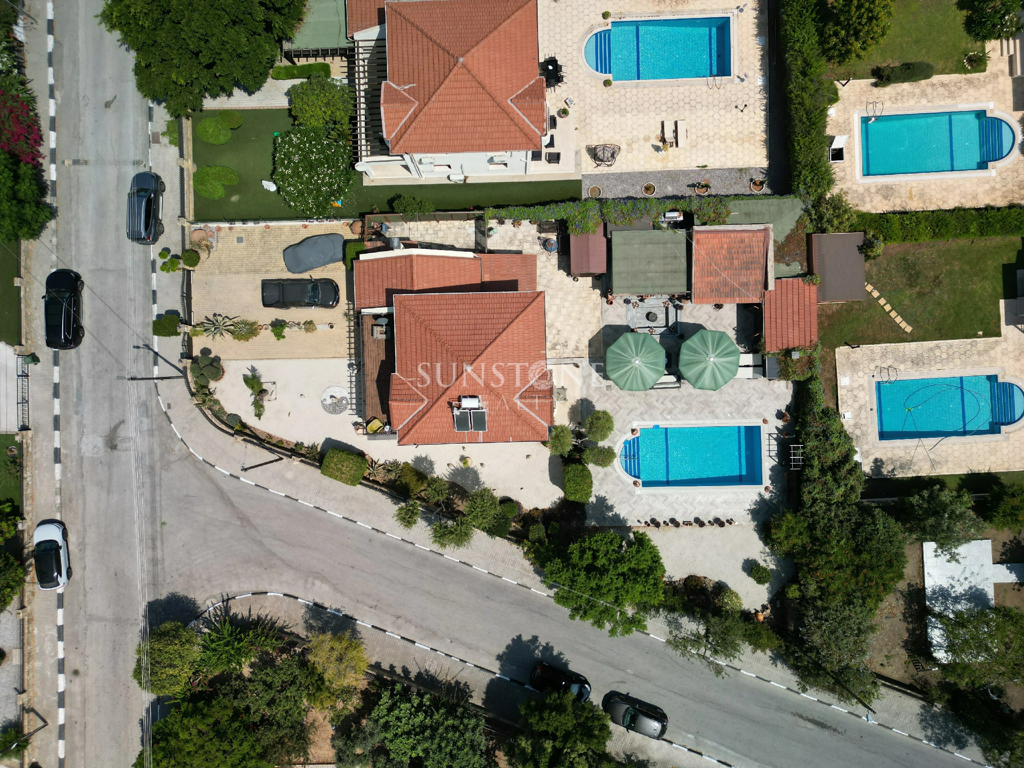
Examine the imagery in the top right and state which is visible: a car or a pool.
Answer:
pool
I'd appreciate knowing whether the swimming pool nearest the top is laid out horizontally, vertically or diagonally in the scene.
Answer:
horizontally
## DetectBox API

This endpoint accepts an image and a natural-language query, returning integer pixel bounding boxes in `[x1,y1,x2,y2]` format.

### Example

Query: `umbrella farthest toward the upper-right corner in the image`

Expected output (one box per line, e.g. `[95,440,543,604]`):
[677,330,738,390]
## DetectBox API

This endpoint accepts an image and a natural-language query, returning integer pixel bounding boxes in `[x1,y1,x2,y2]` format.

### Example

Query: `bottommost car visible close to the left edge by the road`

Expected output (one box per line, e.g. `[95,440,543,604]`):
[29,524,73,590]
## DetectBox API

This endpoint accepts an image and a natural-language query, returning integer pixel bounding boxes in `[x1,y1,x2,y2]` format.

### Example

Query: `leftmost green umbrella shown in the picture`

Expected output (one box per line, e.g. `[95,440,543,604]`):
[606,333,663,390]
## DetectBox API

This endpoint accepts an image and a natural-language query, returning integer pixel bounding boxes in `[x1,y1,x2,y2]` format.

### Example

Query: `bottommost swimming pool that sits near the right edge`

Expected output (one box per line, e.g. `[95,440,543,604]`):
[868,365,1024,449]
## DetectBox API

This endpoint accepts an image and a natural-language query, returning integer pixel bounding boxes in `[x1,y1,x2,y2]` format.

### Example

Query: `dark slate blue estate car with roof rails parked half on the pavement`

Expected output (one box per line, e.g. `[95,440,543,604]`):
[122,171,163,243]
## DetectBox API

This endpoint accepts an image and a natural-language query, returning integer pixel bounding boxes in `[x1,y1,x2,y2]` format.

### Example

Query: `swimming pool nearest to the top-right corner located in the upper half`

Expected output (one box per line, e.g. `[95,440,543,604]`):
[853,101,1023,185]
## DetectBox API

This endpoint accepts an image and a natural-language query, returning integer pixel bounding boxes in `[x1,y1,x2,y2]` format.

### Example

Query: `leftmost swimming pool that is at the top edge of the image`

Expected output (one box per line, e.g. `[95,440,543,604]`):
[577,8,741,89]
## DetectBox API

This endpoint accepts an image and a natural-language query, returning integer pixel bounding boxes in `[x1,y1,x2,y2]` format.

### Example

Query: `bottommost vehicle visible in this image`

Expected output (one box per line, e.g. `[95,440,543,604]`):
[603,693,671,745]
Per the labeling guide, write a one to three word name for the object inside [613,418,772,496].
swimming pool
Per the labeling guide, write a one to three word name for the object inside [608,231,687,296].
house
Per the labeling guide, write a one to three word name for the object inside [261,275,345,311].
vehicle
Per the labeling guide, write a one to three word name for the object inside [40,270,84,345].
car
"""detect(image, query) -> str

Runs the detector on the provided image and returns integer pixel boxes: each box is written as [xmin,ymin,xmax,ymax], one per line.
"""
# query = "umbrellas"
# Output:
[677,330,738,390]
[606,333,663,390]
